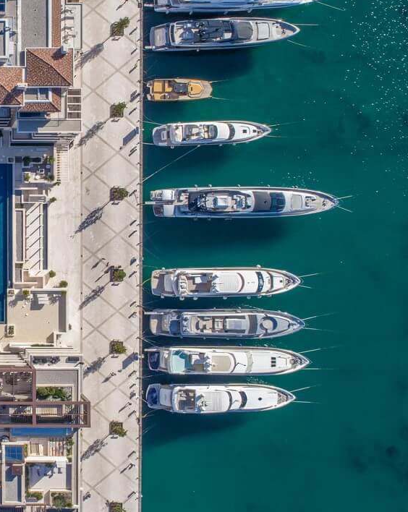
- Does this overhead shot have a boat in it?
Yes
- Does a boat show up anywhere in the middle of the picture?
Yes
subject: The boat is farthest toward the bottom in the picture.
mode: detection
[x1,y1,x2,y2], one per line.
[138,383,313,419]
